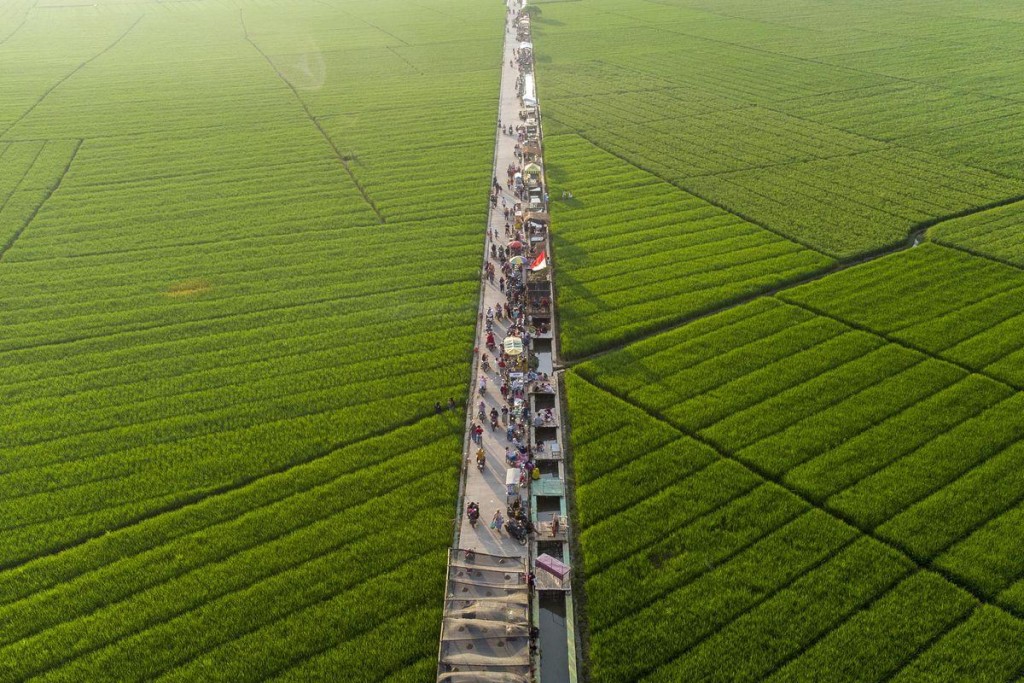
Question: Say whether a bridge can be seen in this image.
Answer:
Yes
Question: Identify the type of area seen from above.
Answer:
farmland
